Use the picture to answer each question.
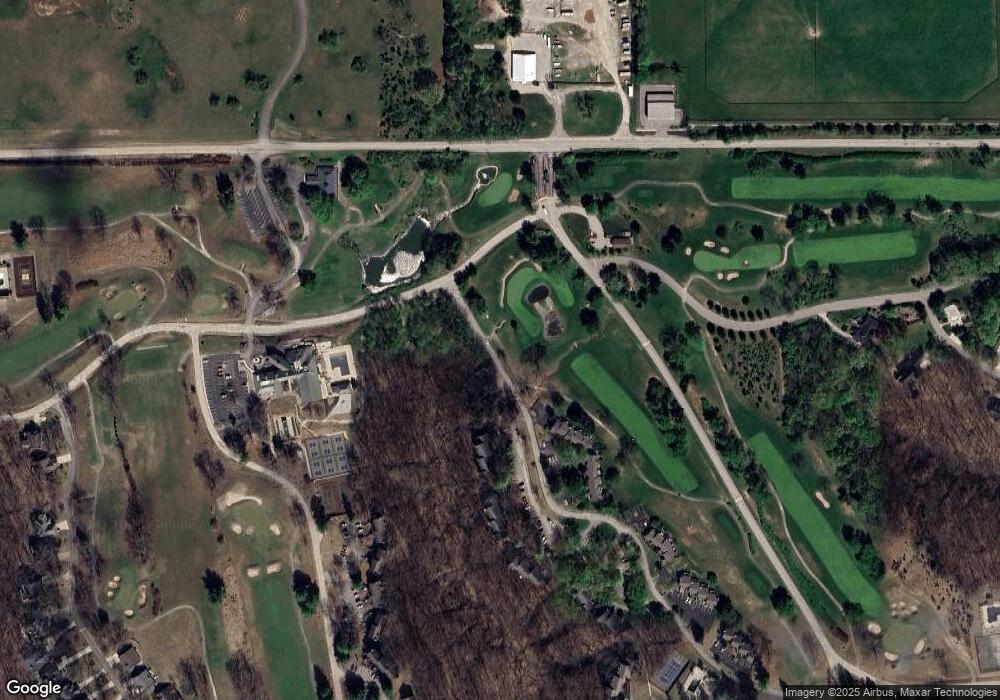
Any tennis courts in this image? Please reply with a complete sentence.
Yes, you can see a tennis court in this photo.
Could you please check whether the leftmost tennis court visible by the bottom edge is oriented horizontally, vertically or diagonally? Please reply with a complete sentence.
In this picture, the leftmost tennis court visible by the bottom edge is oriented diagonally.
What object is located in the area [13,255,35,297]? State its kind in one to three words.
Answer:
sports court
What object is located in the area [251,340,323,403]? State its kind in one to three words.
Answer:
building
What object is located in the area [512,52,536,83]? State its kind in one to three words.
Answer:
shed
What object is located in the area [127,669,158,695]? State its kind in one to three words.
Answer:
house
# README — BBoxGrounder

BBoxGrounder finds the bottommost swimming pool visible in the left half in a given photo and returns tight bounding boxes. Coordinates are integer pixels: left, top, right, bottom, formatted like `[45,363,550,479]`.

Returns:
[322,345,356,383]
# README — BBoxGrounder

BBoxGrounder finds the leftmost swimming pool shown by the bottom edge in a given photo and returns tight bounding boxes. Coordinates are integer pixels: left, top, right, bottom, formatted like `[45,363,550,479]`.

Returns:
[685,666,706,692]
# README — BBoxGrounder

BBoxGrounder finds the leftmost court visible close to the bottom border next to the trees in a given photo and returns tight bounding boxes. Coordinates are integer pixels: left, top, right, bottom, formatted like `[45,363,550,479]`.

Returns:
[648,652,689,692]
